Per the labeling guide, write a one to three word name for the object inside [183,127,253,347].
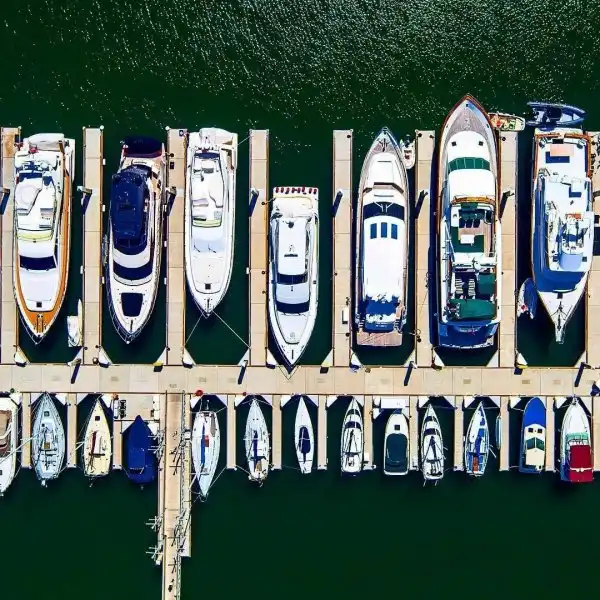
boat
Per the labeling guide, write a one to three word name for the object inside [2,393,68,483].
boat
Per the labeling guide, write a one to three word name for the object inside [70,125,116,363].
pier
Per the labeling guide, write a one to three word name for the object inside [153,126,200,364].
pier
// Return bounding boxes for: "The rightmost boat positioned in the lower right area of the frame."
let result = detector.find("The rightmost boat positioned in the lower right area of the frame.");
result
[555,395,594,483]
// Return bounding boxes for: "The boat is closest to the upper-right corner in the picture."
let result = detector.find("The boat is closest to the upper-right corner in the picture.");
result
[528,101,587,127]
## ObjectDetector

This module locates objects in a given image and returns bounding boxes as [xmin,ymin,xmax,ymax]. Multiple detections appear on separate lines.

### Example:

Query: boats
[463,401,504,476]
[418,403,456,485]
[183,398,227,501]
[265,186,319,376]
[510,397,547,473]
[384,408,410,475]
[401,136,415,169]
[432,91,502,348]
[183,127,253,347]
[2,393,68,483]
[281,396,318,474]
[122,415,158,484]
[528,101,587,127]
[518,281,540,323]
[555,395,594,483]
[489,111,526,129]
[237,400,273,485]
[352,123,417,347]
[105,135,171,344]
[340,396,367,475]
[12,134,84,343]
[518,126,598,345]
[0,394,24,497]
[62,395,114,477]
